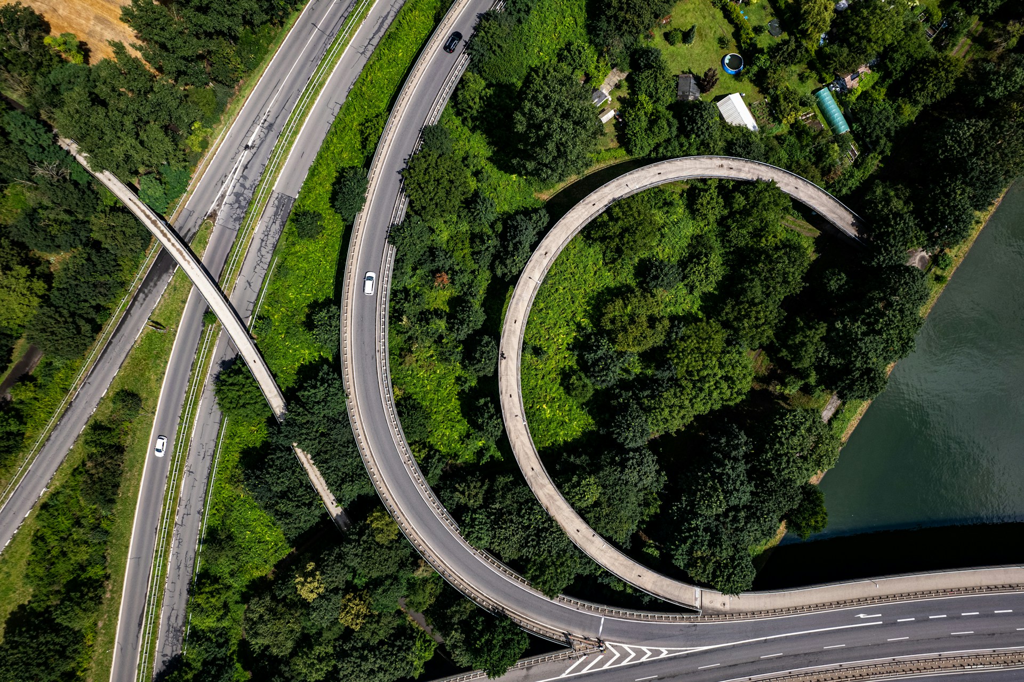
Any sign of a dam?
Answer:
No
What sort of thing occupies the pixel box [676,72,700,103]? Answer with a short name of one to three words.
shed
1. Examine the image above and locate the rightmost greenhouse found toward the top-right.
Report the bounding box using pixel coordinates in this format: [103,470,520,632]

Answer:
[815,86,850,133]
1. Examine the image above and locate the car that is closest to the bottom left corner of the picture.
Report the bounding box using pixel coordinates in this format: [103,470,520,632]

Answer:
[153,435,168,458]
